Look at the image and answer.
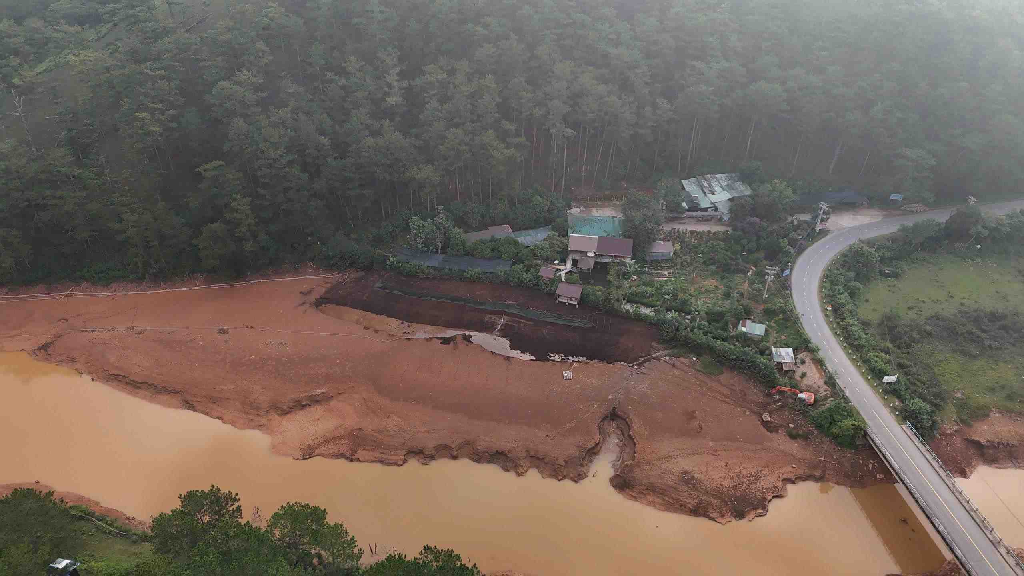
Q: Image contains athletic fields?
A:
No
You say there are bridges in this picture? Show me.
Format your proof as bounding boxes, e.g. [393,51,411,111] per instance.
[872,410,1024,576]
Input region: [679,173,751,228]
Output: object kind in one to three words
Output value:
shed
